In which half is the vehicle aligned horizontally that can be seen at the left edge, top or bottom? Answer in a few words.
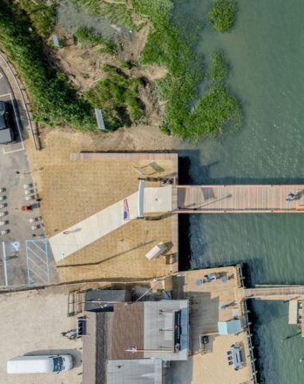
bottom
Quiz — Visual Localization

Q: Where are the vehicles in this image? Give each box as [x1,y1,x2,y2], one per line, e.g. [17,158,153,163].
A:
[4,352,74,375]
[61,331,78,338]
[0,96,18,149]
